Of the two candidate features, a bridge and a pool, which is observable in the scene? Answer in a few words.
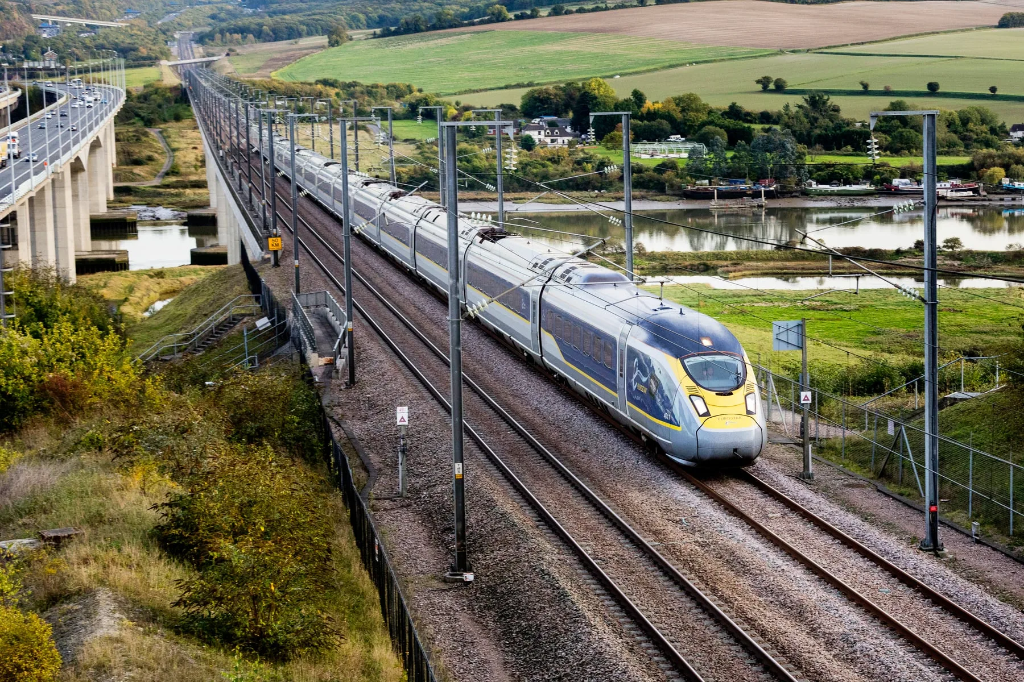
bridge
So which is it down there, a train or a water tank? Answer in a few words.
train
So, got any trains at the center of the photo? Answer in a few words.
Yes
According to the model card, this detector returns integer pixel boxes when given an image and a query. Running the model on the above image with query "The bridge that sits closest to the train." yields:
[188,84,283,263]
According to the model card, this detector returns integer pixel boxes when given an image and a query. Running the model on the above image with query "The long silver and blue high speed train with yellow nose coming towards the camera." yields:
[251,118,766,477]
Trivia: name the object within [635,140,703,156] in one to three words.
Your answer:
greenhouse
